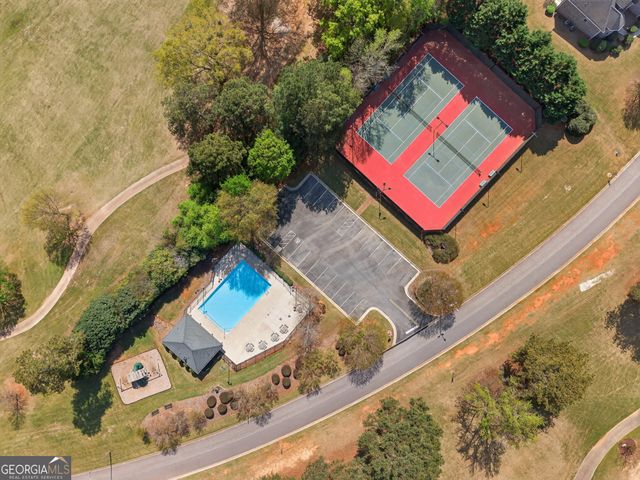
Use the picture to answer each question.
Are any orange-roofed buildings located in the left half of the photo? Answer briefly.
No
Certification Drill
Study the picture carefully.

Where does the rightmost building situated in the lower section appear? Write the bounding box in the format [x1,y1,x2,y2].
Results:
[162,314,223,376]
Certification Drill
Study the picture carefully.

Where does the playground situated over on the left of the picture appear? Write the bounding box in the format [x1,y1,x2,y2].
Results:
[111,349,171,405]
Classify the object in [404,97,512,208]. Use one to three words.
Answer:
tennis court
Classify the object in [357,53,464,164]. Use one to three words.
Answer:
tennis court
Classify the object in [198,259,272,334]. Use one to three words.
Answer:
swimming pool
